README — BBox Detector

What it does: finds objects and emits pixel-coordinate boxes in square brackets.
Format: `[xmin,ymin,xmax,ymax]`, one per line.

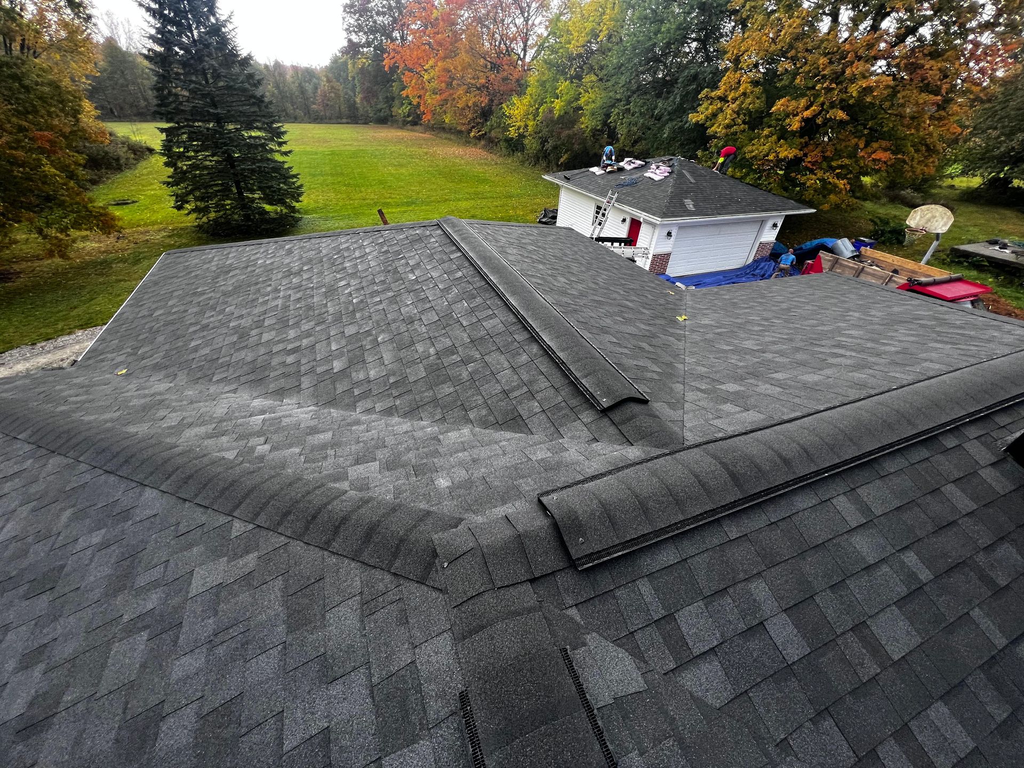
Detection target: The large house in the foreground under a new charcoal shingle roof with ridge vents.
[0,219,1024,768]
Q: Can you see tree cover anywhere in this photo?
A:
Yes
